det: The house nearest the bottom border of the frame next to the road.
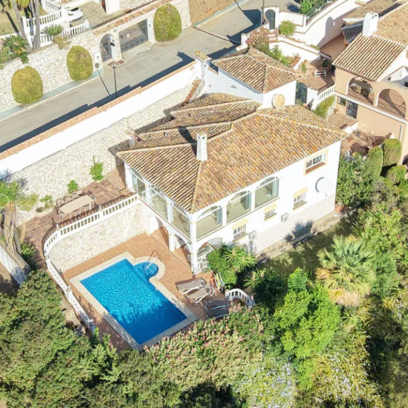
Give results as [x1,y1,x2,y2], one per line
[114,90,349,263]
